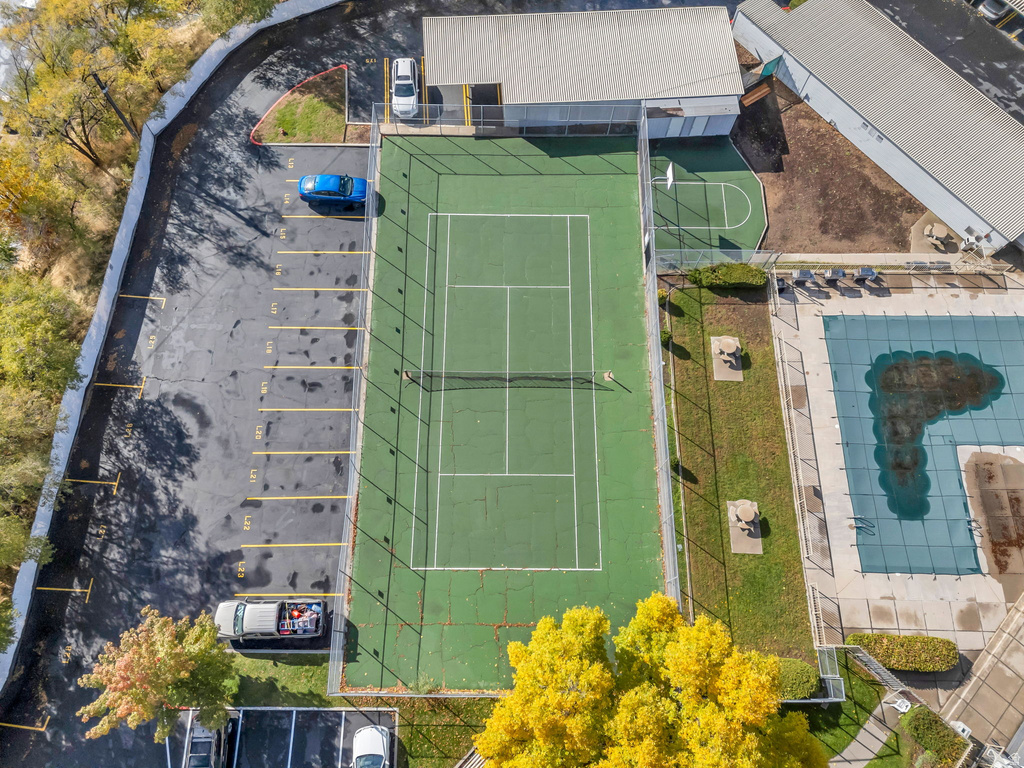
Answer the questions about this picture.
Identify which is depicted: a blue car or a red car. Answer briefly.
blue car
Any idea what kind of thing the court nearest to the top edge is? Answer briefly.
basketball court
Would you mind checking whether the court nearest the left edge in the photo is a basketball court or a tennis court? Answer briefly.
tennis court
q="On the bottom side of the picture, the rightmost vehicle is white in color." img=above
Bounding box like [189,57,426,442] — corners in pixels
[347,726,389,768]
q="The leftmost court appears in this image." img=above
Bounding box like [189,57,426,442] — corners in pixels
[340,136,667,690]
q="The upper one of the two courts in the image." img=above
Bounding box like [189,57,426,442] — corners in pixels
[638,135,766,272]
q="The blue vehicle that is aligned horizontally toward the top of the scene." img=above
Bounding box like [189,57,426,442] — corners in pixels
[296,172,367,205]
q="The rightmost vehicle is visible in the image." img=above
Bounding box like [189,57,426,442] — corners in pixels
[975,0,1011,22]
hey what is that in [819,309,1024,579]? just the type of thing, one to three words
swimming pool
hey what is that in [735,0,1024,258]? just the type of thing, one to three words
building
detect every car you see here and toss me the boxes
[296,172,367,205]
[390,57,420,118]
[975,0,1011,22]
[347,726,389,768]
[177,714,229,768]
